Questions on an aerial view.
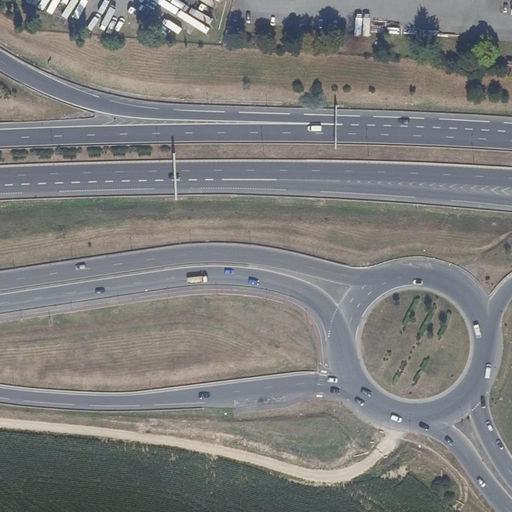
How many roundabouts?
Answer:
1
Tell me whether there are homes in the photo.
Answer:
No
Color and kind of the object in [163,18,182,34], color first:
white vehicle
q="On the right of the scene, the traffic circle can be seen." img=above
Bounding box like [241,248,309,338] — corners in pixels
[326,256,504,434]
